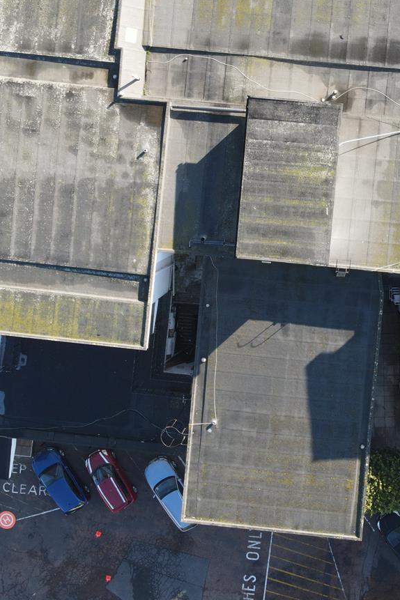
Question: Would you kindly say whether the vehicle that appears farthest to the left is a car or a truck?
car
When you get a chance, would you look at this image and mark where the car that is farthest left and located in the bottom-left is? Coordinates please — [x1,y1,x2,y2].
[29,448,90,522]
